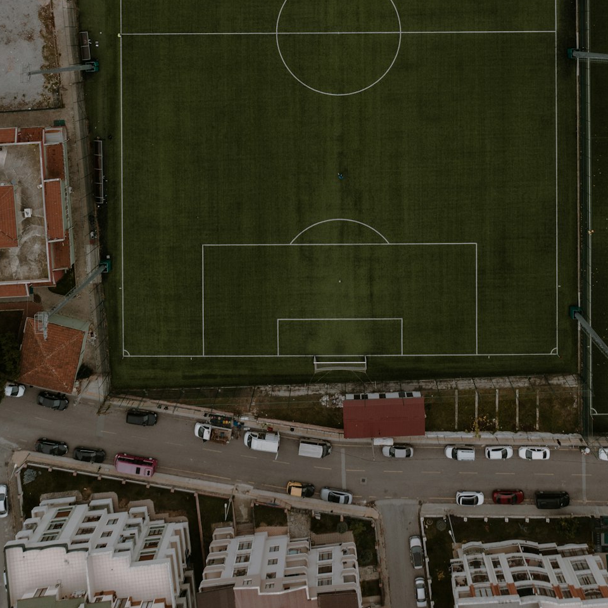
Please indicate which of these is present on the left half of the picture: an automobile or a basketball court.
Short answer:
automobile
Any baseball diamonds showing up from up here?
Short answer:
No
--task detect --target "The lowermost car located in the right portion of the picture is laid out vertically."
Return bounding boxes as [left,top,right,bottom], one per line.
[414,575,430,608]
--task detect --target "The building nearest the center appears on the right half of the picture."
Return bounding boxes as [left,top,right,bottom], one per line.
[344,390,425,438]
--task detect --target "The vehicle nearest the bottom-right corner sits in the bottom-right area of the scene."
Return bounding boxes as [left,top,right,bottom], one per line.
[534,490,570,510]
